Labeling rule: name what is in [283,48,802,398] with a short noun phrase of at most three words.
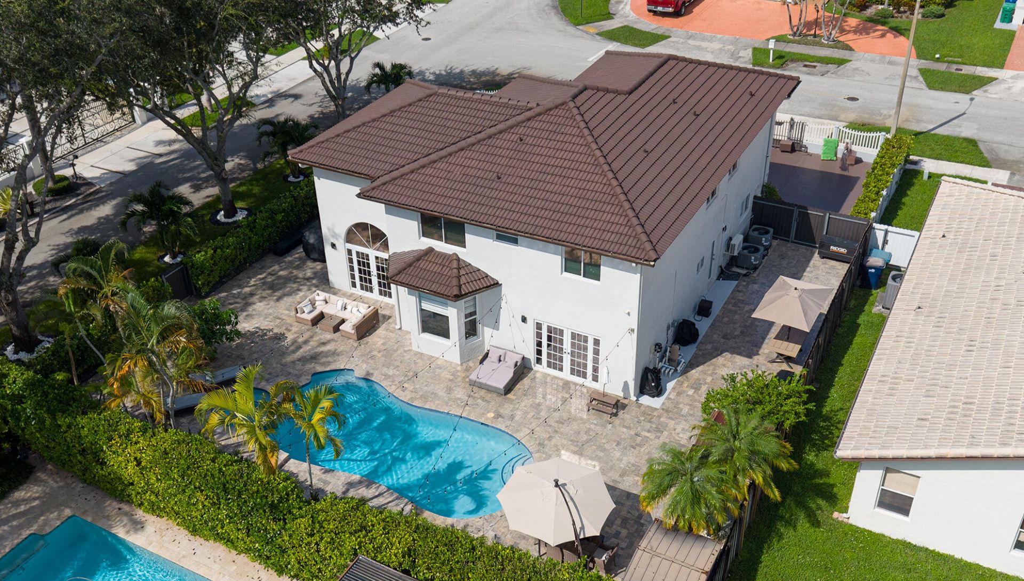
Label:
house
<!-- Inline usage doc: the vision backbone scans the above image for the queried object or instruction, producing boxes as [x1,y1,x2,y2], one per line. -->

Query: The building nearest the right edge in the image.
[833,165,1024,569]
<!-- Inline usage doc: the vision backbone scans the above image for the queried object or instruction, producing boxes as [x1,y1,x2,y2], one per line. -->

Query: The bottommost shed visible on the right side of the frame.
[618,524,724,581]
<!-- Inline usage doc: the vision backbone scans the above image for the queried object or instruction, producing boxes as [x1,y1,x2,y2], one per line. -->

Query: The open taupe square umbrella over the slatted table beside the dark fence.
[753,276,834,337]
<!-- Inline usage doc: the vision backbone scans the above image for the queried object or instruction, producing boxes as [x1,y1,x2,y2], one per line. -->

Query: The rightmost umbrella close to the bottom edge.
[496,459,618,573]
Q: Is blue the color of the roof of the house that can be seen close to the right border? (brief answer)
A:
No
